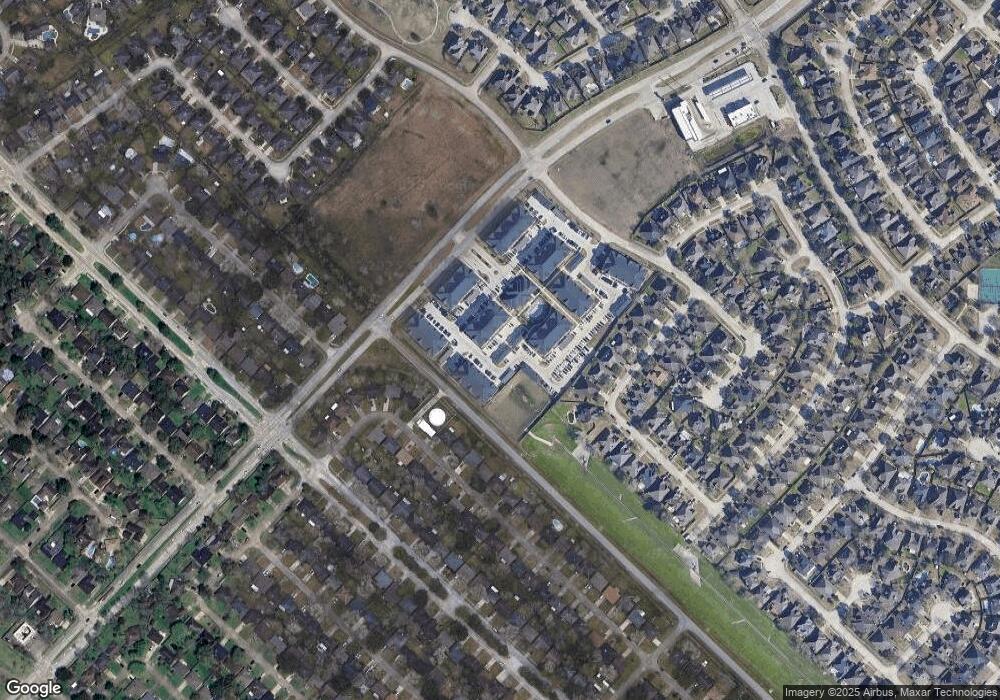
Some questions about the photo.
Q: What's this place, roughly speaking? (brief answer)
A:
residential area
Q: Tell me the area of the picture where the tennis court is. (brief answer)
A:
right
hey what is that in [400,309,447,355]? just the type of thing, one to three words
building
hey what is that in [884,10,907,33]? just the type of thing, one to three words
house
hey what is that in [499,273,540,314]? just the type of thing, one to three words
building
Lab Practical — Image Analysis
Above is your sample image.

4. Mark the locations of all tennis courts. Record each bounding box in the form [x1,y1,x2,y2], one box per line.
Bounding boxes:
[978,268,1000,303]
